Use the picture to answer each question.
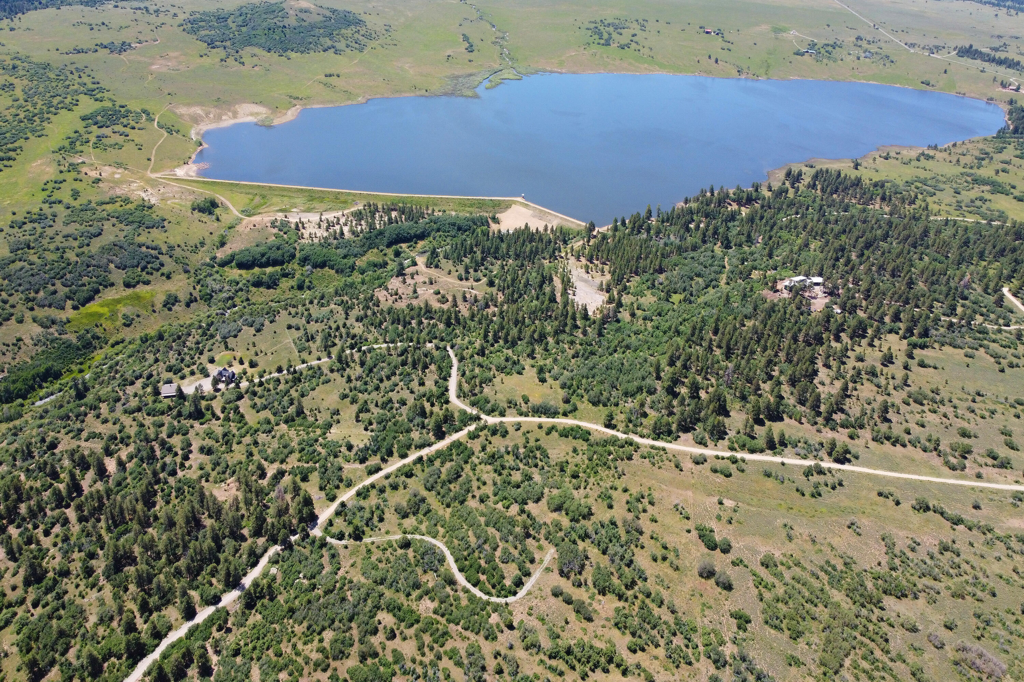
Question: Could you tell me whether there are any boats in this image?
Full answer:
No, this view has no boat in it.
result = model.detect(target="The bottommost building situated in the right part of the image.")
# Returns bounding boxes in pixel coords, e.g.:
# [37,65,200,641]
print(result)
[782,274,820,291]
